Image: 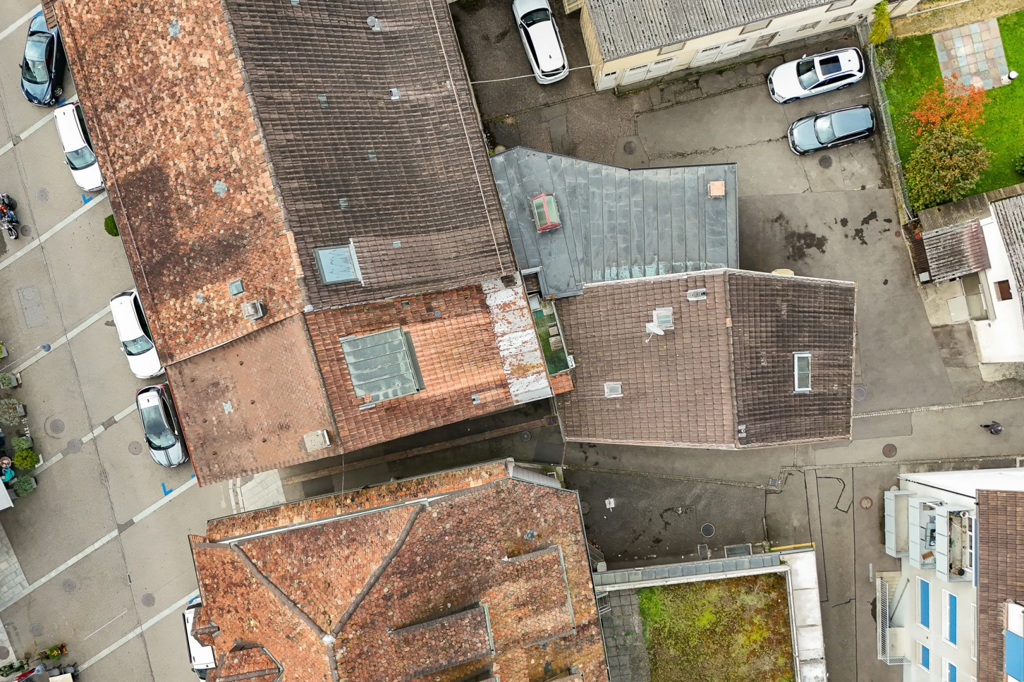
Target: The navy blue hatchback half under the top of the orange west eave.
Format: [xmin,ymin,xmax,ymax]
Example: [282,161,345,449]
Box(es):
[16,14,64,105]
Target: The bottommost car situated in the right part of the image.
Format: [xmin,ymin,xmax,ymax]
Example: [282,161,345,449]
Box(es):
[788,105,877,155]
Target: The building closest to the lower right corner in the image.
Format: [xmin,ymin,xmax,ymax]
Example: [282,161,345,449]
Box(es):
[883,469,1024,682]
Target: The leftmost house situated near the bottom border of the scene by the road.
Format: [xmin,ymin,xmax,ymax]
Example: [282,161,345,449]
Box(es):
[186,452,618,682]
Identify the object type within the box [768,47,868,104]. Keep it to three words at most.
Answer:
car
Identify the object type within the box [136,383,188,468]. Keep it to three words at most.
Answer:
car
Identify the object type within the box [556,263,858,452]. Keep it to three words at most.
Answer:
house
